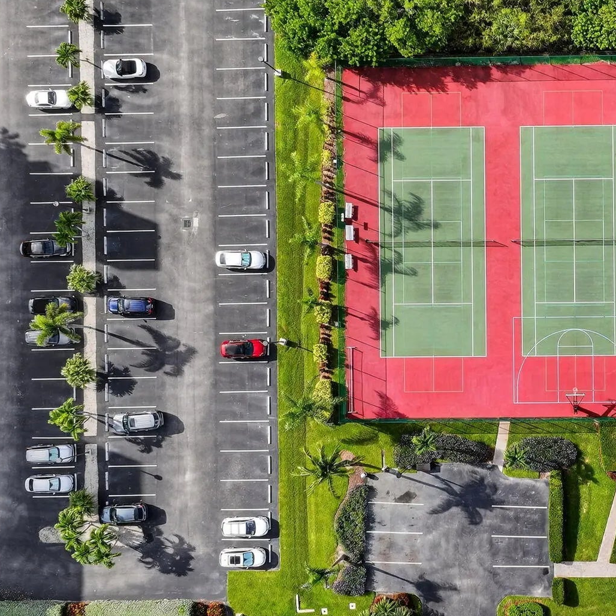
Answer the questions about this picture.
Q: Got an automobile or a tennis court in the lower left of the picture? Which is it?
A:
automobile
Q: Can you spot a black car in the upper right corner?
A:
No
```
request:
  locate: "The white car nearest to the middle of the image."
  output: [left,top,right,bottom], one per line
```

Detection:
[217,249,267,271]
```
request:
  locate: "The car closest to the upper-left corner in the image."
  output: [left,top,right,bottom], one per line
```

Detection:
[25,89,76,110]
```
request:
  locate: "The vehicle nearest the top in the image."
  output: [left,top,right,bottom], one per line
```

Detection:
[103,58,147,80]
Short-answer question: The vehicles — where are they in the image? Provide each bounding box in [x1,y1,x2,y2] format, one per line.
[222,515,271,538]
[26,443,78,466]
[25,89,76,110]
[107,296,156,318]
[113,411,163,435]
[217,249,267,271]
[22,237,73,259]
[101,502,149,525]
[26,473,77,495]
[221,339,270,361]
[219,546,267,569]
[103,58,147,80]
